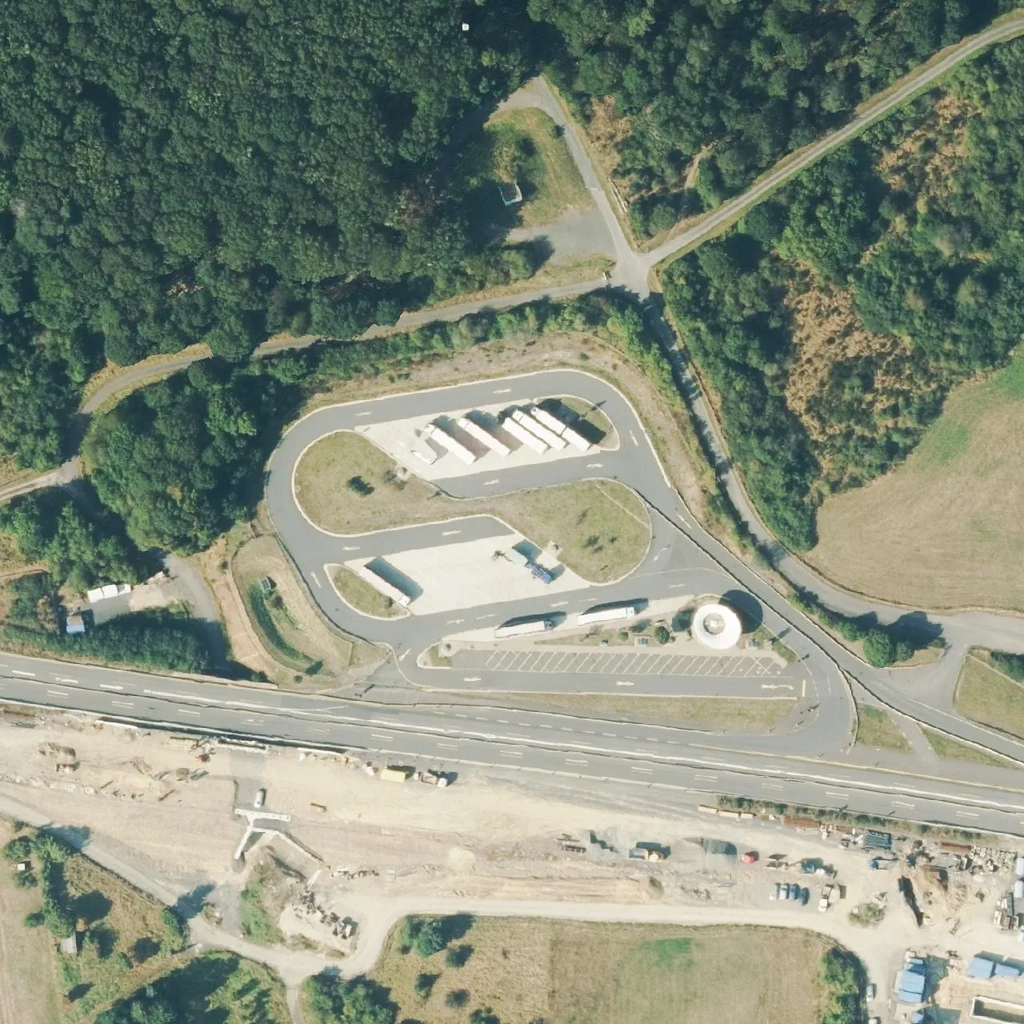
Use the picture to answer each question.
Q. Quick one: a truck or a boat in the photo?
truck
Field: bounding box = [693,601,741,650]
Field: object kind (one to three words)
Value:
building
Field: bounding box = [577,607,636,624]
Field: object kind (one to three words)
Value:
vehicle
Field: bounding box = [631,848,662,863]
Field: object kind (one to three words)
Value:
vehicle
